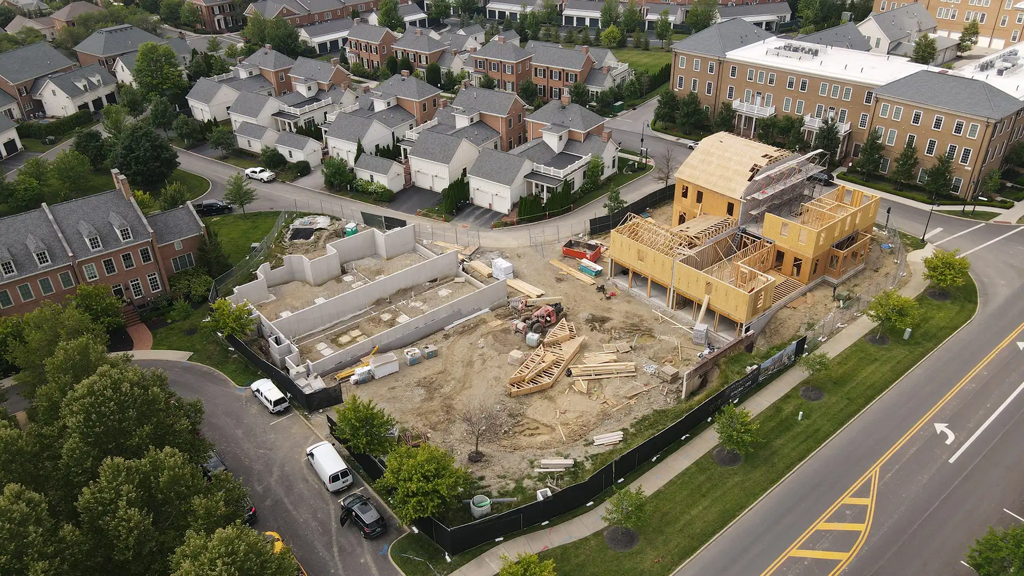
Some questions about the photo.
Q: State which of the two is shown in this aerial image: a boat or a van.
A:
van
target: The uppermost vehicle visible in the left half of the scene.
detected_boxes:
[245,163,280,182]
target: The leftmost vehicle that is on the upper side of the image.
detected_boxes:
[191,194,238,213]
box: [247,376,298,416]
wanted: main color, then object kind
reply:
white truck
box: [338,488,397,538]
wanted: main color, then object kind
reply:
black car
